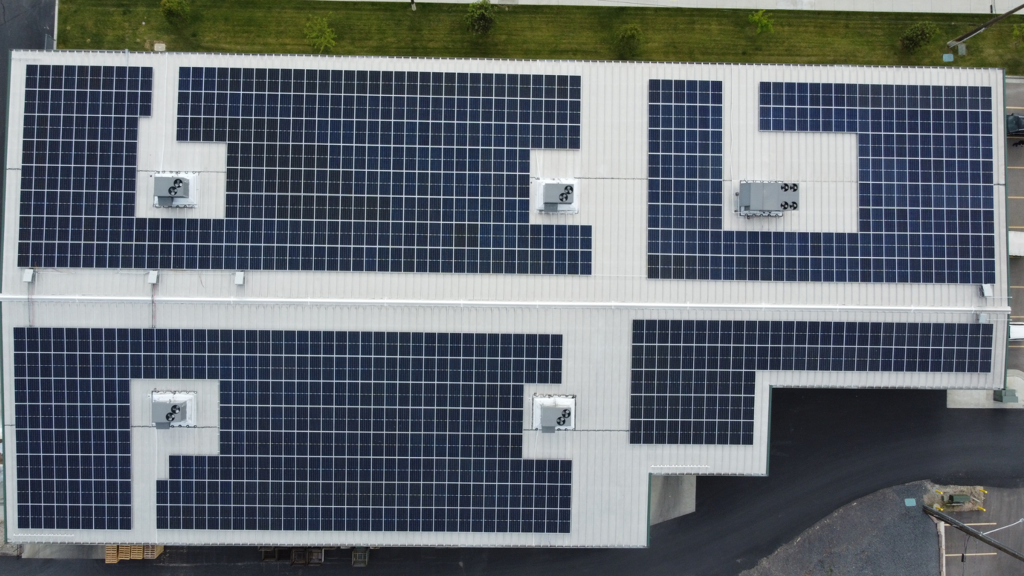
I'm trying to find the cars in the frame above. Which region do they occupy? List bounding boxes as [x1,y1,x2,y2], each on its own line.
[1006,112,1024,138]
[1007,321,1024,341]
